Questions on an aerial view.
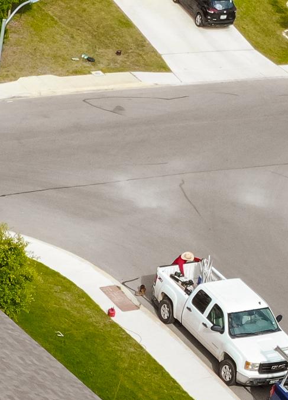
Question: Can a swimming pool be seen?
No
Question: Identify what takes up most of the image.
paved ground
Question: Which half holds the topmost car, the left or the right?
right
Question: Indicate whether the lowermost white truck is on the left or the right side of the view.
right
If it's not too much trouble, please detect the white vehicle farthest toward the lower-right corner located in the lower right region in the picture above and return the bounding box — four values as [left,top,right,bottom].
[152,265,288,392]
